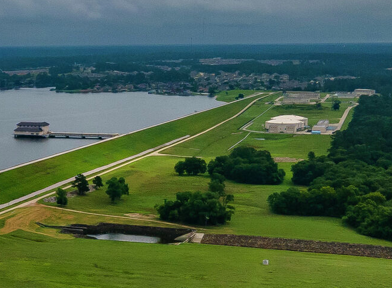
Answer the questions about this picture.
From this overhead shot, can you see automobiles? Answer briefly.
No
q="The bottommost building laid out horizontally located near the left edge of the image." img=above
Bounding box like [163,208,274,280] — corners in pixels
[14,120,53,137]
